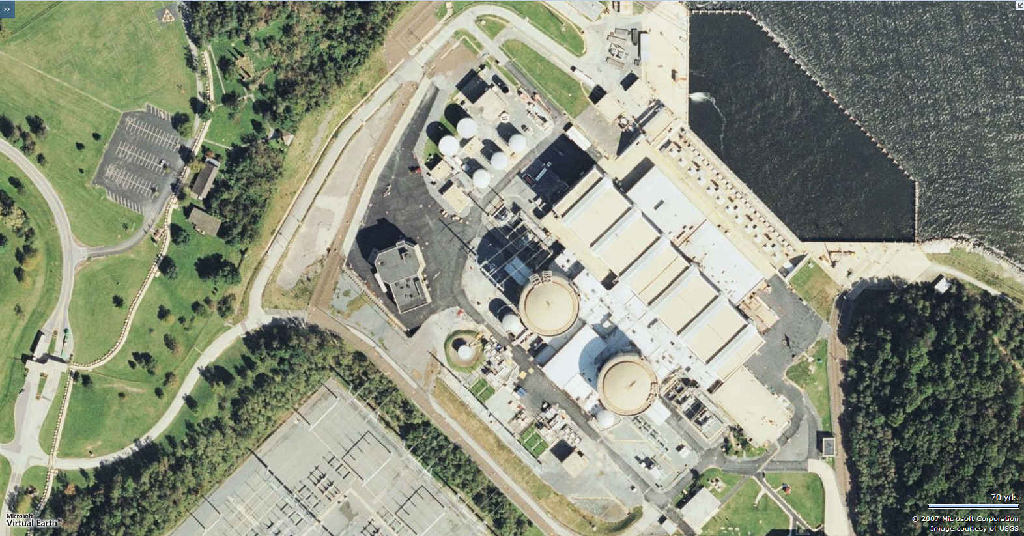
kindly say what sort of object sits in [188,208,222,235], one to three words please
house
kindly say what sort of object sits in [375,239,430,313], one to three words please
building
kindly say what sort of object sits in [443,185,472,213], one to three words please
shed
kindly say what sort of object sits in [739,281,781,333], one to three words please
building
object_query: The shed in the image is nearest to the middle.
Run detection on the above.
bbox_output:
[506,255,533,284]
